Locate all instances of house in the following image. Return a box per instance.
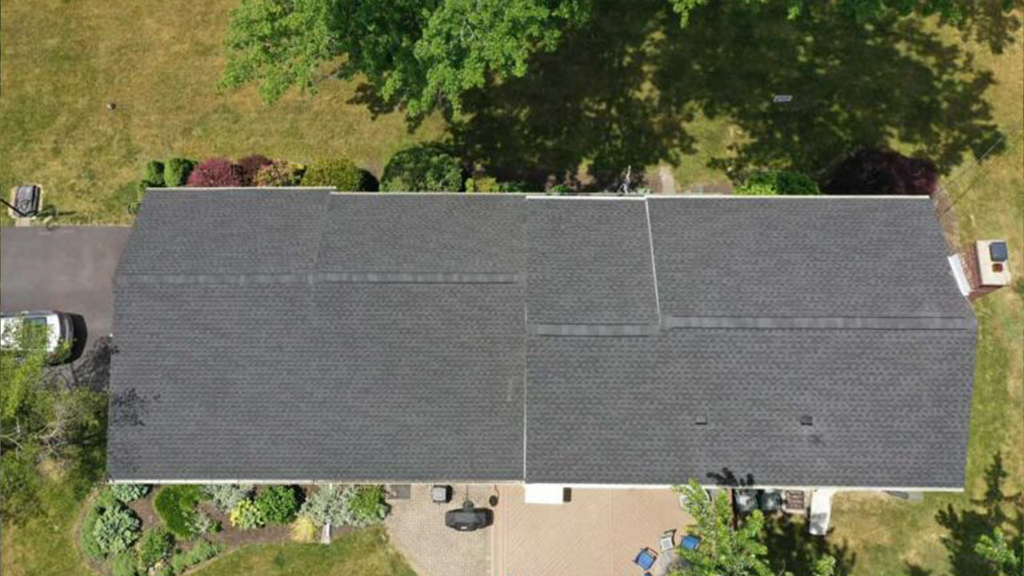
[109,186,1011,492]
